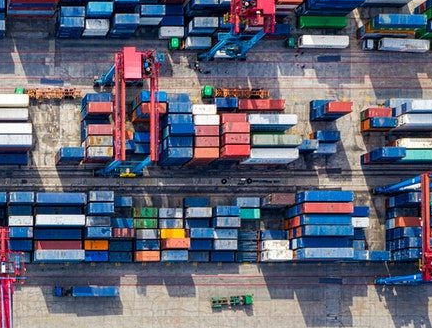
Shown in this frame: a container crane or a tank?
container crane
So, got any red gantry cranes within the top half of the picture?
Yes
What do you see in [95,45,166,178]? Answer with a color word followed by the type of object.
red container crane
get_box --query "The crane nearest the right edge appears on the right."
[376,171,432,286]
